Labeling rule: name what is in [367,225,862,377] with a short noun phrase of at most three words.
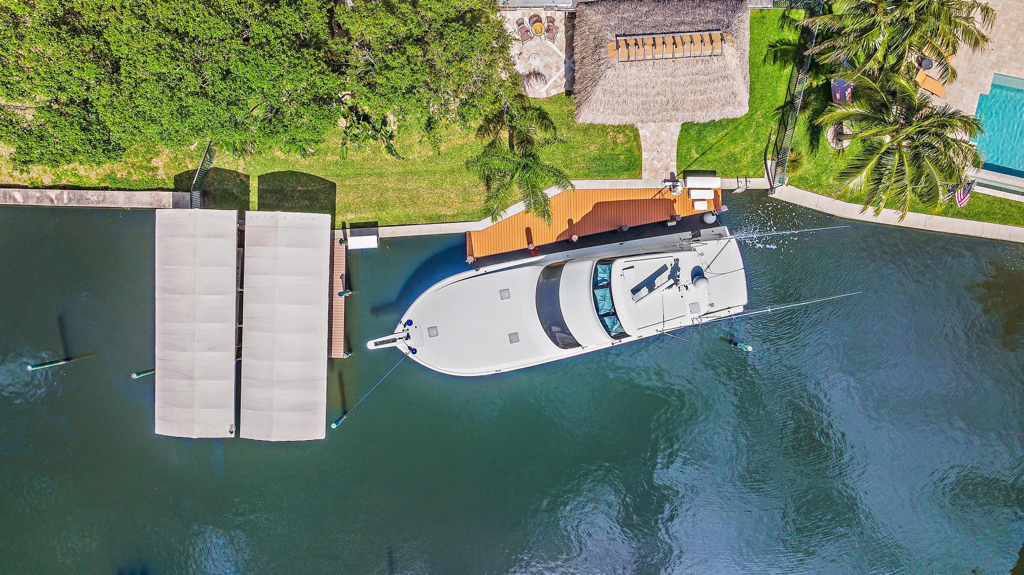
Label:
boat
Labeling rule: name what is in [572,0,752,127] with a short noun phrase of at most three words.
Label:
shed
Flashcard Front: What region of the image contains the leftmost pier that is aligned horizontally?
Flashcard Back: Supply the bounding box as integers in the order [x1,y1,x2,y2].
[467,190,722,258]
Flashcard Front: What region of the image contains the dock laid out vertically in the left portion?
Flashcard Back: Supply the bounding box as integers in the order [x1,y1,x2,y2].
[328,238,347,357]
